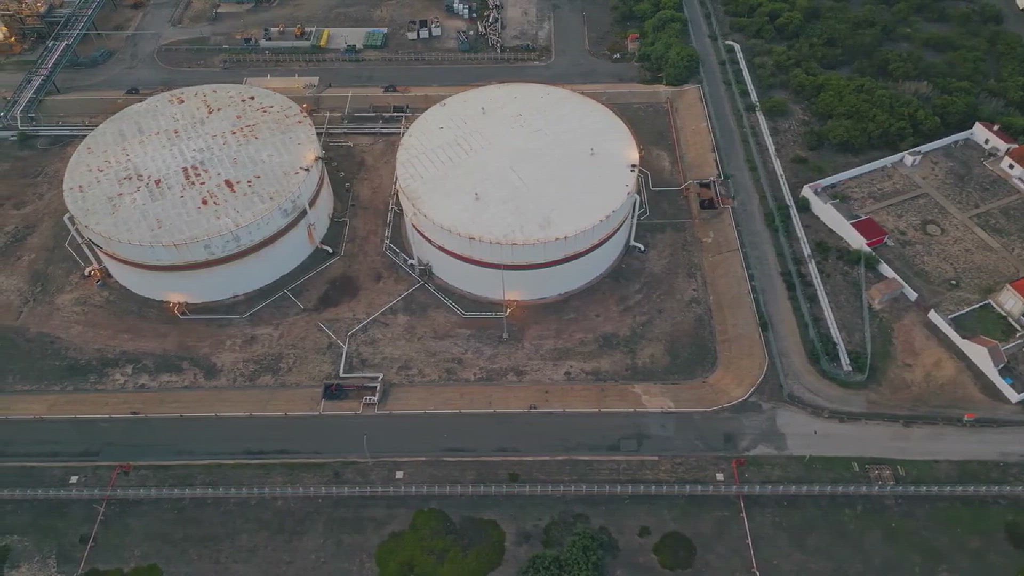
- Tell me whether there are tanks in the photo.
Yes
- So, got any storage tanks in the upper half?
Yes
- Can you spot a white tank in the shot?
Yes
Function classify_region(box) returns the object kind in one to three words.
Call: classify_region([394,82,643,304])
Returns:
storage tank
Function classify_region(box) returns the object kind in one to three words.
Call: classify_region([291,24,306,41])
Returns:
work vehicle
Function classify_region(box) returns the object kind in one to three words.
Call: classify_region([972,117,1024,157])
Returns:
house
